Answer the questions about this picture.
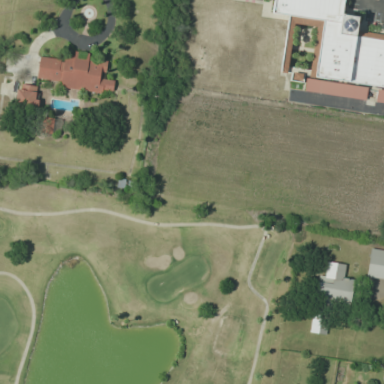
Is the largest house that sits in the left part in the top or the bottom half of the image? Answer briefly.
top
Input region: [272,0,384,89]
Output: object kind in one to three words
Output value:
building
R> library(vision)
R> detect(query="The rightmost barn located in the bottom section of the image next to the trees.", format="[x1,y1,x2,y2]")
[368,250,384,279]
